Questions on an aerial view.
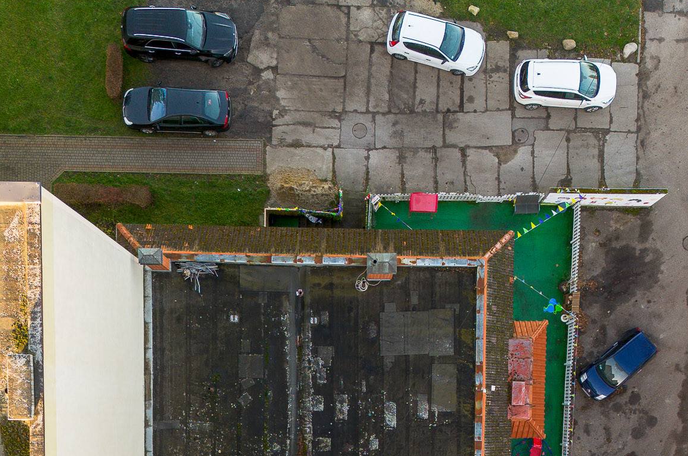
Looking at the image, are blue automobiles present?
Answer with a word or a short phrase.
Yes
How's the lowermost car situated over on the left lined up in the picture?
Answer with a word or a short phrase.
horizontally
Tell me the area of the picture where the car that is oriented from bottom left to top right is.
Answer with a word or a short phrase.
bottom right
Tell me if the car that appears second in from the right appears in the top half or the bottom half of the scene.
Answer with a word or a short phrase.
top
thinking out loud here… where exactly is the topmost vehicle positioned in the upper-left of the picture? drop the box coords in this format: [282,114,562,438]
[122,8,236,70]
